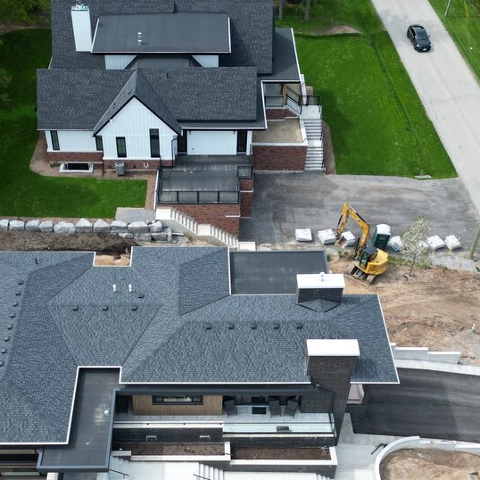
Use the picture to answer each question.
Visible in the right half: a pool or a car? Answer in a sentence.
What appears in the right half is a car.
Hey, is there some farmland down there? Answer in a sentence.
No, there is no farmland in the image.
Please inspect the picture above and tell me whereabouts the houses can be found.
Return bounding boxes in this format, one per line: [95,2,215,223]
[36,0,302,170]
[0,247,403,480]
